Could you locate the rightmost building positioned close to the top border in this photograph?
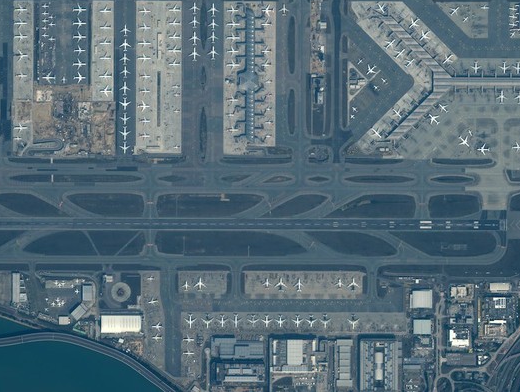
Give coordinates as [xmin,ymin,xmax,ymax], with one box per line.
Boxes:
[380,11,520,138]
